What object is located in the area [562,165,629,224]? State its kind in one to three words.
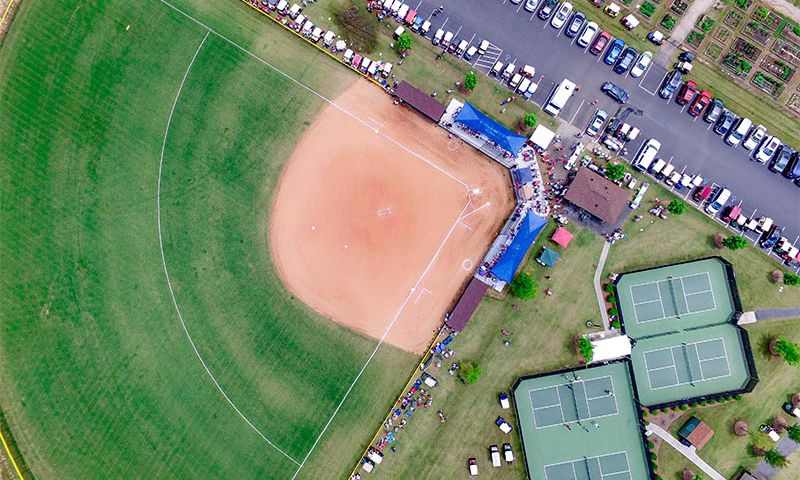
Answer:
building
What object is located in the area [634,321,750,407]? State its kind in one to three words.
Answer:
sports court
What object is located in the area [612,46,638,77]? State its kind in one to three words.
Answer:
car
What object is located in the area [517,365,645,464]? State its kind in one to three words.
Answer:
sports court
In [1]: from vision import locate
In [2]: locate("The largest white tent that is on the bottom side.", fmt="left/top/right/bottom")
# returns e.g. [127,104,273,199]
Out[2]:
[586,332,631,362]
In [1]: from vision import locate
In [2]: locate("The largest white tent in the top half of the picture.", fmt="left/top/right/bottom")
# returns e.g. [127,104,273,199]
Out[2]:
[528,124,555,152]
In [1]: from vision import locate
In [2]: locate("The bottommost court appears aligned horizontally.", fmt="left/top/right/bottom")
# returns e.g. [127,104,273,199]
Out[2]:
[530,443,649,480]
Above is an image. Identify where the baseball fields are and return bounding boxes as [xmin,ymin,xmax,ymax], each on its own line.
[0,0,516,480]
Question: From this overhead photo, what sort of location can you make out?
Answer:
sports ground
